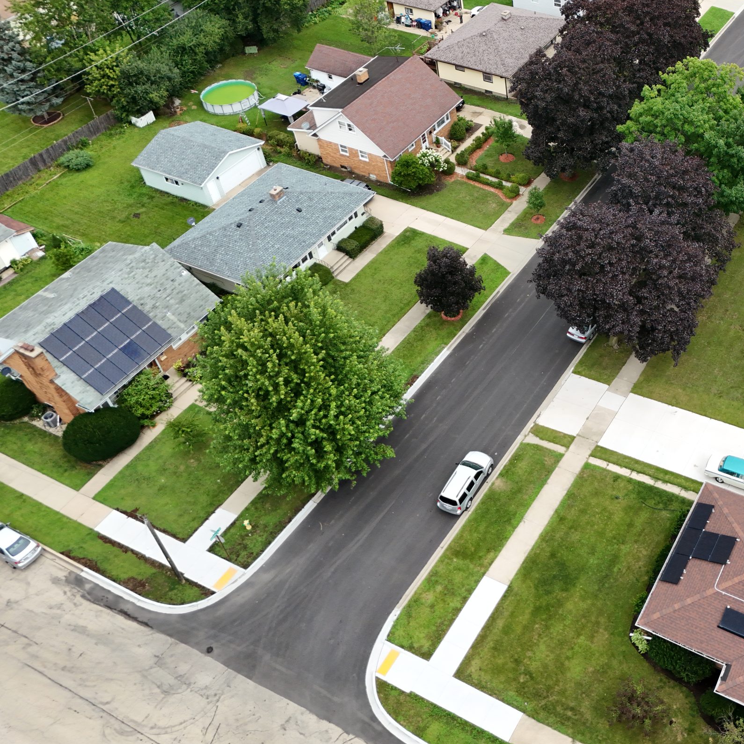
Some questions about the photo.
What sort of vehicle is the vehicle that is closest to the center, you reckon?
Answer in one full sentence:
It looks like the vehicle that is closest to the center is an automobile.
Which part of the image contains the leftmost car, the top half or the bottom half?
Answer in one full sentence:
It is in the bottom half that the leftmost car appears.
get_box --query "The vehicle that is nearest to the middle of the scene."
[433,450,494,516]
